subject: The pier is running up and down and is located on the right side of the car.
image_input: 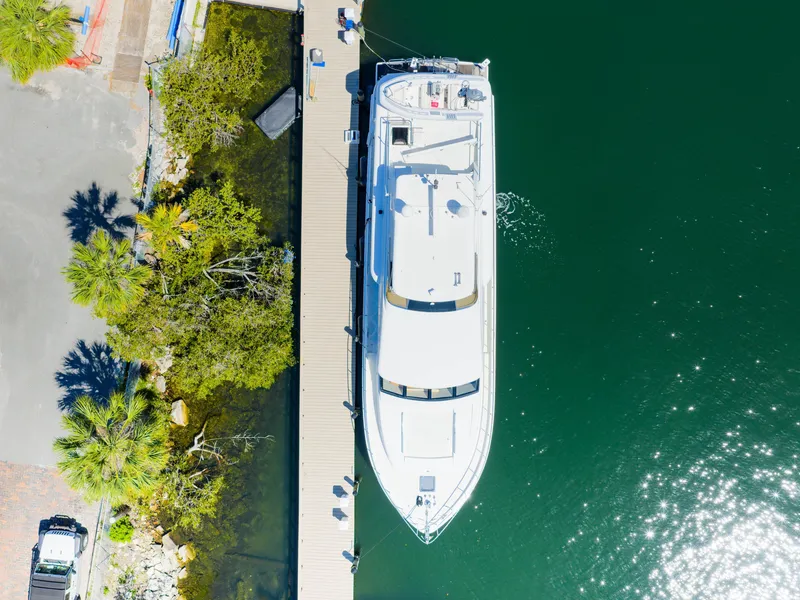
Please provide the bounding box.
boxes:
[295,0,365,600]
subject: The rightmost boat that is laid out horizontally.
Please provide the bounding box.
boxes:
[379,74,488,120]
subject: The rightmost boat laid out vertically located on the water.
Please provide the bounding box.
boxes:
[362,52,496,545]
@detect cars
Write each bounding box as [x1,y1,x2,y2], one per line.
[27,520,91,600]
